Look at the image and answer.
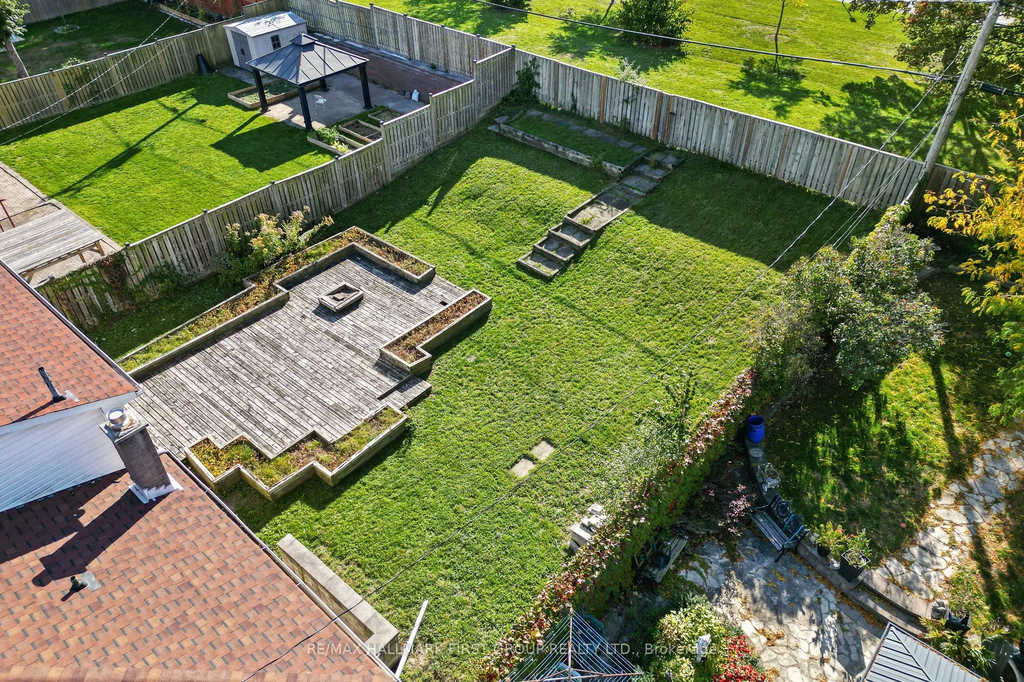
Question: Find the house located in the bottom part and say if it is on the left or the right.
left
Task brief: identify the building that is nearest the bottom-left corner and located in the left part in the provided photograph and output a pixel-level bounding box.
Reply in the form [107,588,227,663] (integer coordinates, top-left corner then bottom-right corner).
[0,251,411,682]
